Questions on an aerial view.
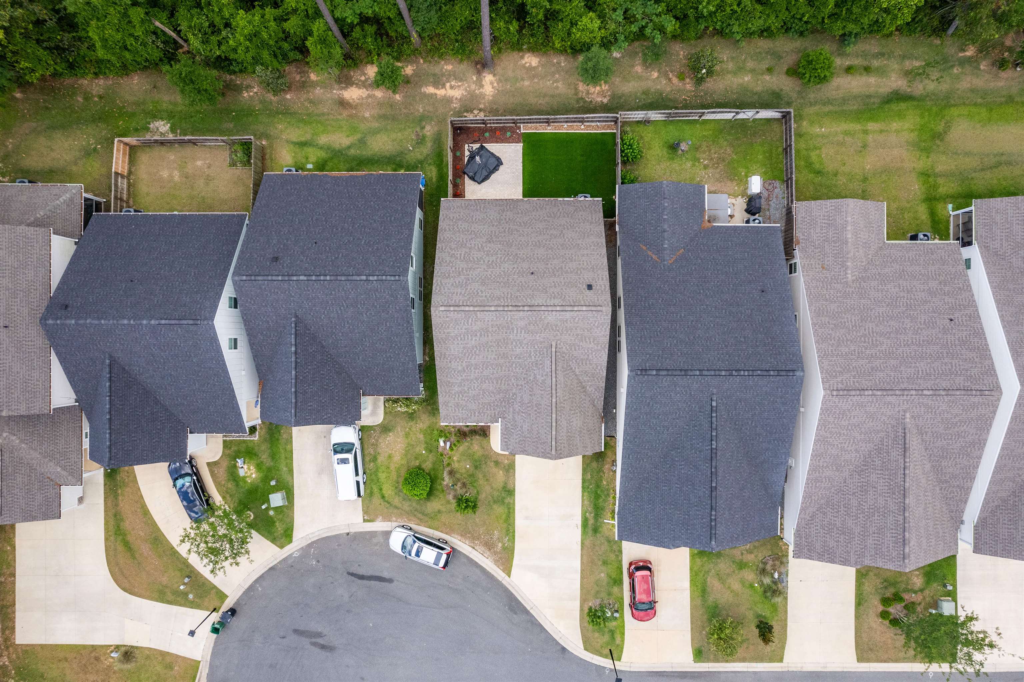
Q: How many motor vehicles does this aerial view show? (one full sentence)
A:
My tally gives 4 motor vehicles in this view.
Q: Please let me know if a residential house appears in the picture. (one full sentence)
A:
Yes, looking at the shot, I can spot a residential house.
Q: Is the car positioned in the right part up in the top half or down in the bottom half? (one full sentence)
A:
The bottom half of the photo is where the car positioned in the right part is.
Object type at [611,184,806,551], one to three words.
house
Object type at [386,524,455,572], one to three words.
car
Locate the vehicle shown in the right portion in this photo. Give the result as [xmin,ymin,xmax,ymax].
[628,559,662,623]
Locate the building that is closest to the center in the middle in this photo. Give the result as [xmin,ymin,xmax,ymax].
[431,196,614,461]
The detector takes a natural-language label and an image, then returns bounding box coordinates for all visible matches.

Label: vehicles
[628,559,662,623]
[386,524,455,572]
[165,457,215,526]
[326,422,367,501]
